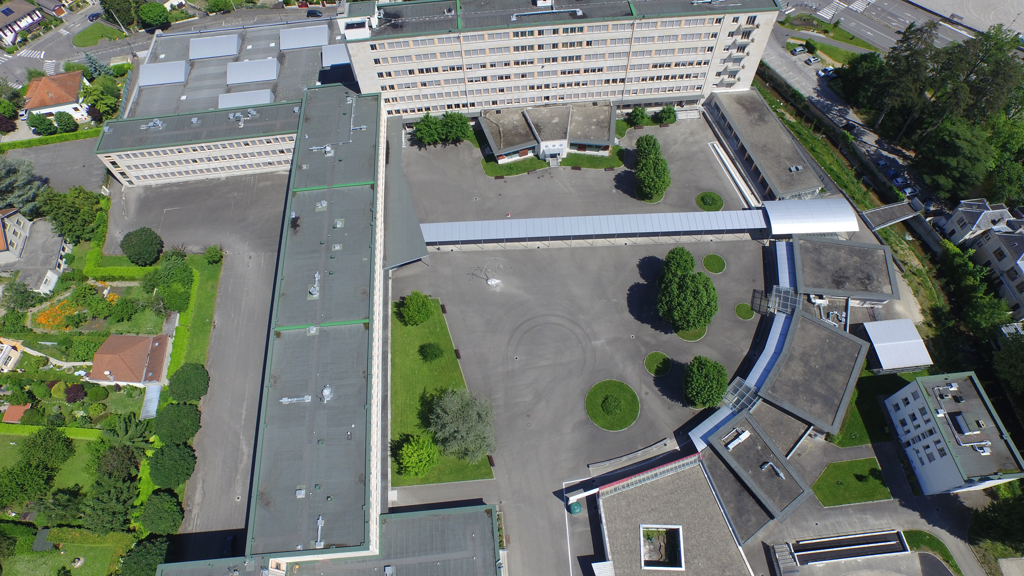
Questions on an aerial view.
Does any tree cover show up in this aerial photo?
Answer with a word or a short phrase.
Yes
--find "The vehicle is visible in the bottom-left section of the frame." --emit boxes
[221,532,236,560]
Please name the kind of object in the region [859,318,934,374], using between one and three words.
shed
